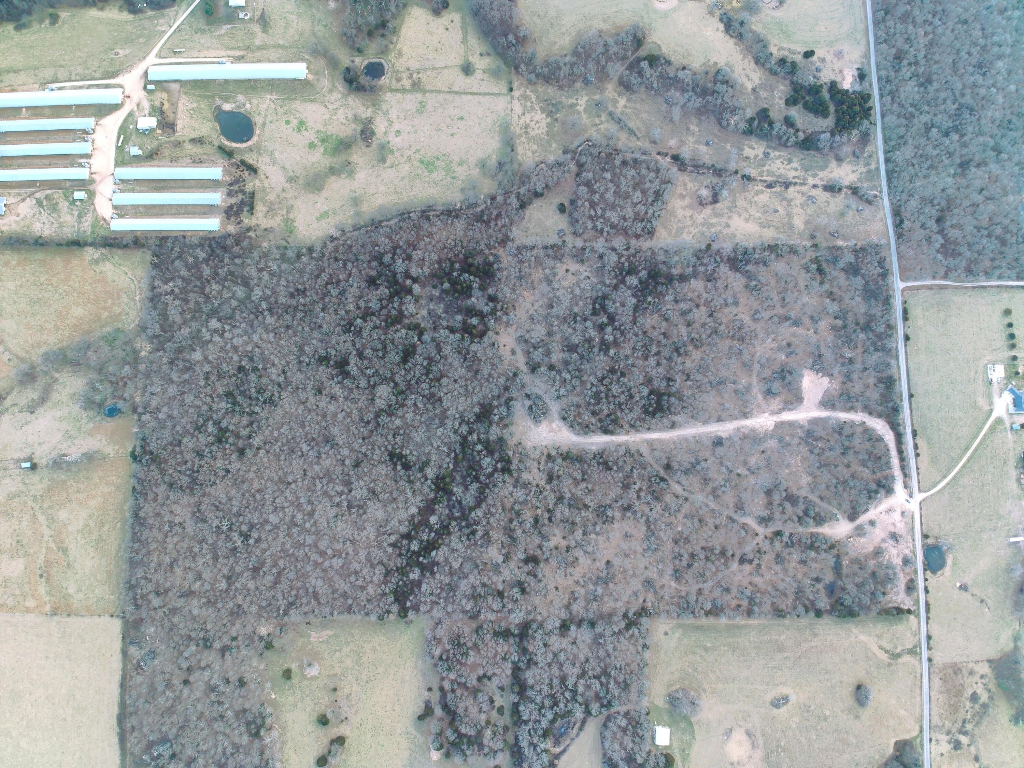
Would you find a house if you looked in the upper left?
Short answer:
Yes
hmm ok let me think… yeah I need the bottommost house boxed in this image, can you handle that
[653,722,670,745]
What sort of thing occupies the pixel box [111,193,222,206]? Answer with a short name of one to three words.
house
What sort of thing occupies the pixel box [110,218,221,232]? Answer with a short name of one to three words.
house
